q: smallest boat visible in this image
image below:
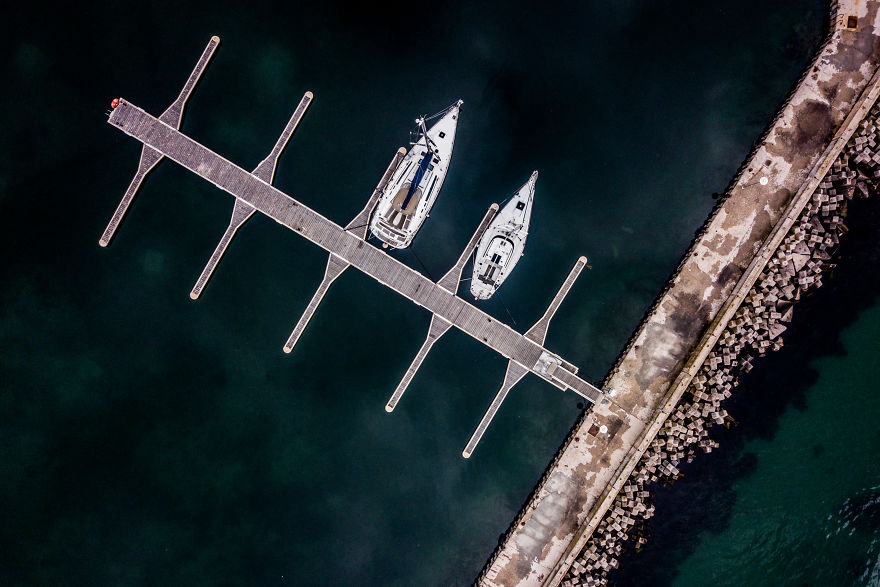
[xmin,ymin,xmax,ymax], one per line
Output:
[470,170,538,300]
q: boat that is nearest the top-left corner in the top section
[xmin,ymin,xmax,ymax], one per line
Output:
[369,99,463,250]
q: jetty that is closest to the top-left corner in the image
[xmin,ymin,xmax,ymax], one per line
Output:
[100,36,586,458]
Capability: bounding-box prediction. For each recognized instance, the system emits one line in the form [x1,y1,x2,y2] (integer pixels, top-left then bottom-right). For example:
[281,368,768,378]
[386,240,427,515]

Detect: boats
[470,170,538,300]
[369,99,463,250]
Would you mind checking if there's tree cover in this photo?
No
